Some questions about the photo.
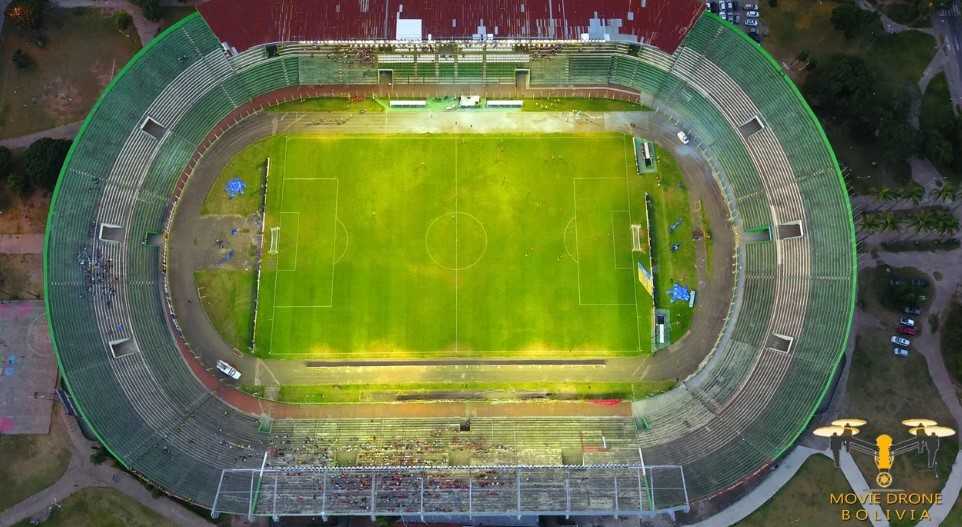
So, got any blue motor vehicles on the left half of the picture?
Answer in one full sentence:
No, the scene shows no blue motor vehicle on the left half of the picture.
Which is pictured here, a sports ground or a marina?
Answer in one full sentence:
This looks like a sports ground.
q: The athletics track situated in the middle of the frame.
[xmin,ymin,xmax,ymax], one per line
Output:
[162,88,743,420]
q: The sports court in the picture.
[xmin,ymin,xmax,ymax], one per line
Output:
[0,300,59,435]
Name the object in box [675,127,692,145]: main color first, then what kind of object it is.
white vehicle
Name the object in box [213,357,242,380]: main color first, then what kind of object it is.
white truck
